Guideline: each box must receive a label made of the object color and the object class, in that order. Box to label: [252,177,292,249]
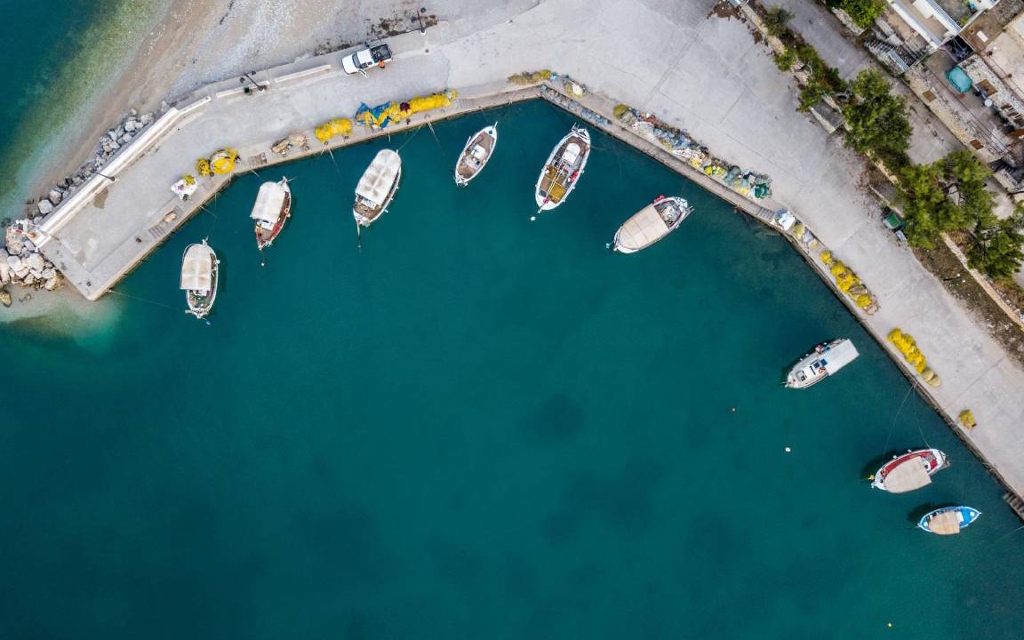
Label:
white boat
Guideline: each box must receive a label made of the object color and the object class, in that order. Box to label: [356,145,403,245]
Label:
white boat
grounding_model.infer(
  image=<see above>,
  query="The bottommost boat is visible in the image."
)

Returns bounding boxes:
[907,504,983,535]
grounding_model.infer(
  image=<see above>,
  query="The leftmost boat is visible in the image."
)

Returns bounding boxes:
[181,240,223,318]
